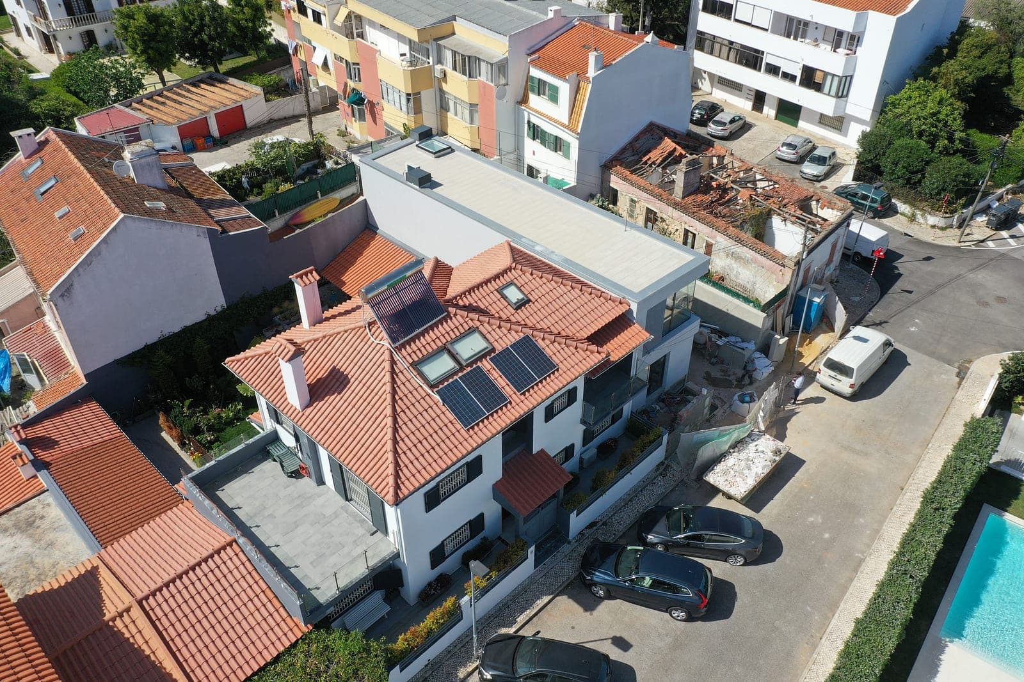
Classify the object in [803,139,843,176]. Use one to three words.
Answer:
car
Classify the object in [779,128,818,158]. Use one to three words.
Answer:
car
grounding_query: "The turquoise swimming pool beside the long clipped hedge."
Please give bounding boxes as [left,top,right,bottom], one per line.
[939,512,1024,682]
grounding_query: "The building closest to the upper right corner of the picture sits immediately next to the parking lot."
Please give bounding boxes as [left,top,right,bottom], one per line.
[710,0,968,146]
